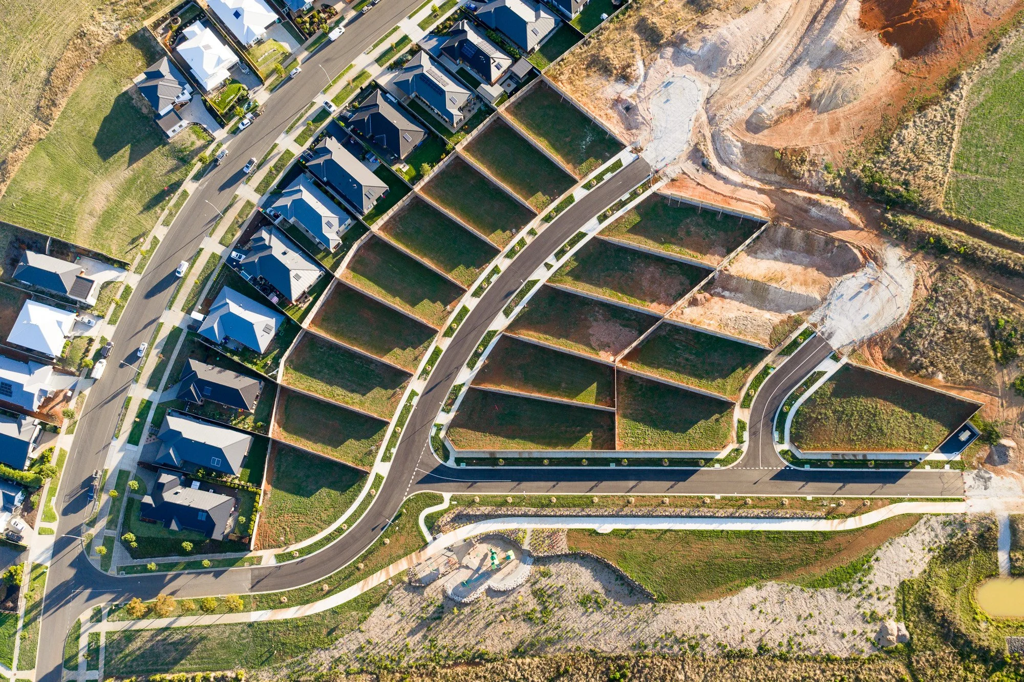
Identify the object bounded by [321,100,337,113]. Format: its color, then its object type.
white vehicle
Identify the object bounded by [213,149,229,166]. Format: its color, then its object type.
gray vehicle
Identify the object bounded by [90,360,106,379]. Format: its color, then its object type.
white vehicle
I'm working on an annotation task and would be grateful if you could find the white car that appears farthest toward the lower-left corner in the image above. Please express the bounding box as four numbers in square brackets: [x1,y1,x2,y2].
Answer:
[12,518,27,532]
